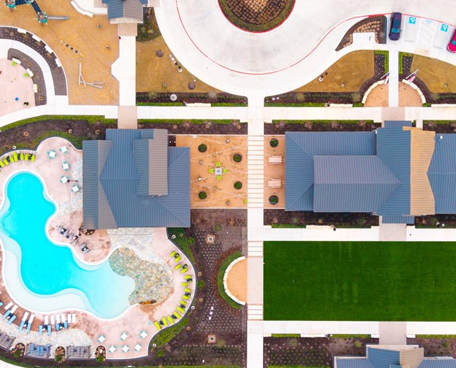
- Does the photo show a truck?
No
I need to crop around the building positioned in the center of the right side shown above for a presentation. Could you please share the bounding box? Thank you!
[285,119,456,224]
